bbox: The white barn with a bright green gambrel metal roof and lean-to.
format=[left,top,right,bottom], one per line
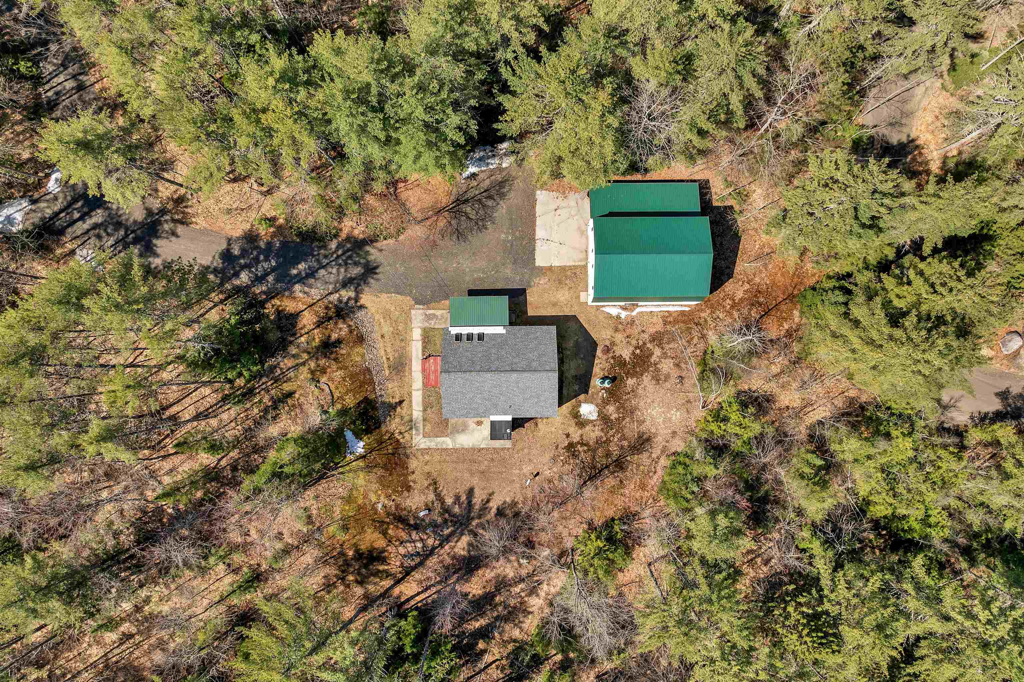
[587,182,715,305]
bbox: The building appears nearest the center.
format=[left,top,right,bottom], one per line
[439,296,558,440]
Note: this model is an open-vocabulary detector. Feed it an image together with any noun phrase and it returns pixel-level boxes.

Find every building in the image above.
[439,296,558,440]
[587,182,715,305]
